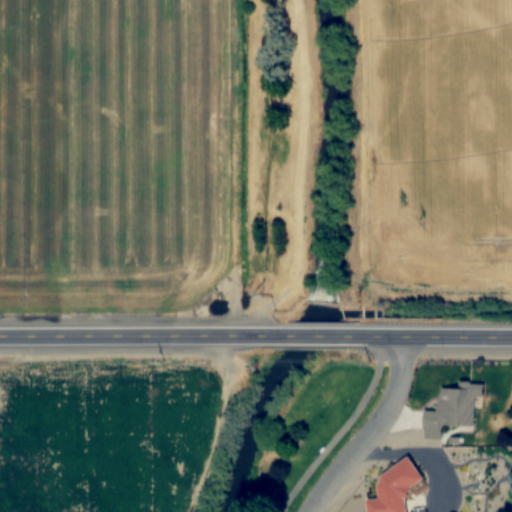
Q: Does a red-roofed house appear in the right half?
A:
Yes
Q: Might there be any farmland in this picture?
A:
Yes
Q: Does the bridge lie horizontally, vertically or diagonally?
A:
horizontally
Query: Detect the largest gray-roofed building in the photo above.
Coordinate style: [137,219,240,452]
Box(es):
[424,382,485,439]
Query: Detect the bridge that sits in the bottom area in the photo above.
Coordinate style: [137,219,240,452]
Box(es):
[235,321,372,358]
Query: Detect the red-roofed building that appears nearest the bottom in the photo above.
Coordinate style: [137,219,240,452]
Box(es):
[367,457,422,512]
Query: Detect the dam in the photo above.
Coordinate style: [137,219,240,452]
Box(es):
[308,259,342,305]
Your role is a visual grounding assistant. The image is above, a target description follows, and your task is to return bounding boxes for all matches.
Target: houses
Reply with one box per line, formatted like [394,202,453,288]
[367,457,422,512]
[424,382,485,439]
